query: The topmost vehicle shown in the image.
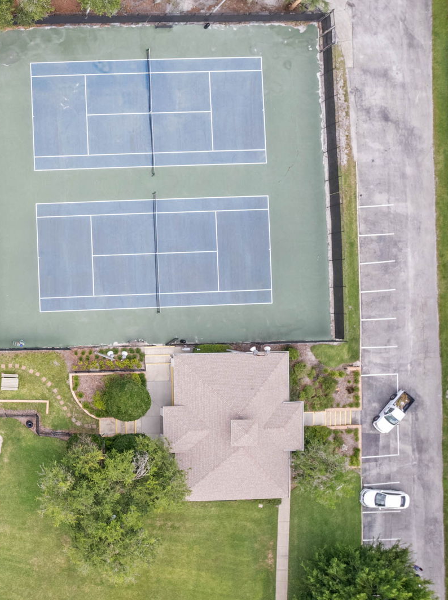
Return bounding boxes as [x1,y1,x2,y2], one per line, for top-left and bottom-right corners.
[371,387,415,433]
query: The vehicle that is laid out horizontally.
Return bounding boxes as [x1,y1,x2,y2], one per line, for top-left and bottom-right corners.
[359,488,409,511]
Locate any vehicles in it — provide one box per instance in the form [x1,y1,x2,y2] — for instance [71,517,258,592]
[371,387,415,433]
[359,488,409,511]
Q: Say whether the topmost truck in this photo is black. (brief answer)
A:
No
